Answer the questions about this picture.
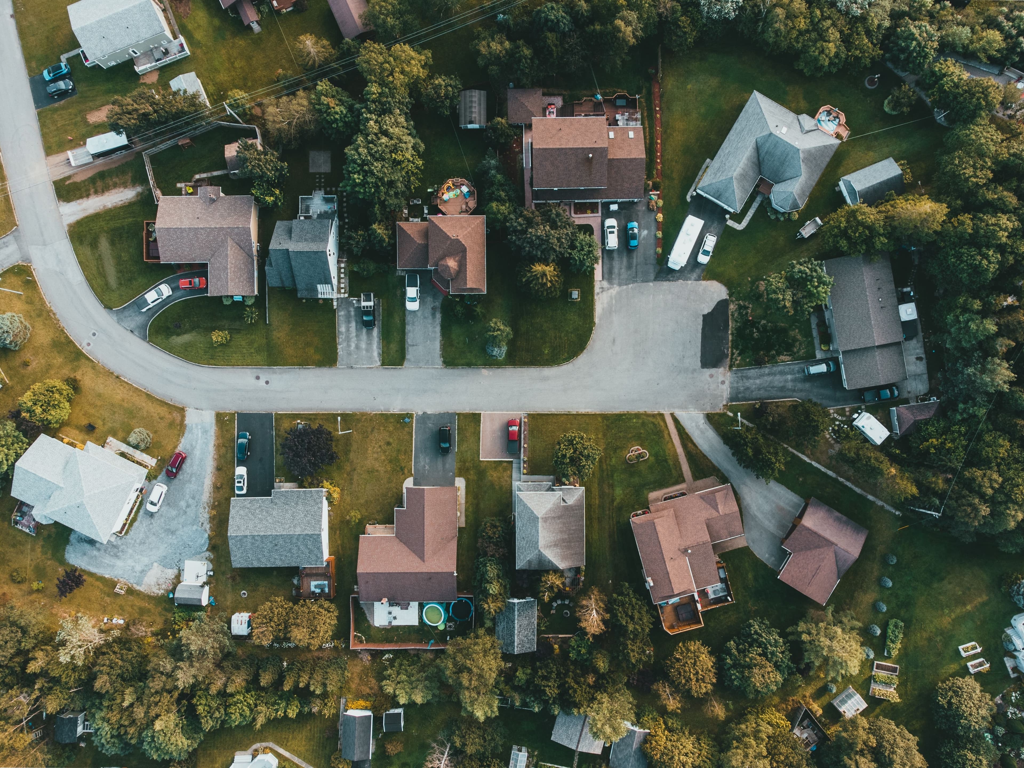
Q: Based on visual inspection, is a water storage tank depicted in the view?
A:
No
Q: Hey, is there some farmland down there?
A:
No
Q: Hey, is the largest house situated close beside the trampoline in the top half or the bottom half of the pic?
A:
bottom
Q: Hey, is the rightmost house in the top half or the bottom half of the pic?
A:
bottom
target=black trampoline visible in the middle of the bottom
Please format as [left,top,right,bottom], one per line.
[450,597,473,621]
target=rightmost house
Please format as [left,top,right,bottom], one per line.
[995,603,1024,648]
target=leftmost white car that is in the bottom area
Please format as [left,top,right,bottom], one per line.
[145,482,170,513]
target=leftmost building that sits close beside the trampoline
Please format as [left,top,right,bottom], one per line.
[356,485,458,606]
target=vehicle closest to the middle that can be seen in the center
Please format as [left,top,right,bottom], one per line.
[506,419,521,454]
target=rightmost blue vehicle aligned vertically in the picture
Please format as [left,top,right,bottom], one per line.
[626,221,640,250]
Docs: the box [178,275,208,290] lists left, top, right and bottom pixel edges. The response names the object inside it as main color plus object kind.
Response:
red car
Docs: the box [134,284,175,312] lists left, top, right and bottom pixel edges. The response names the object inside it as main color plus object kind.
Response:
white vehicle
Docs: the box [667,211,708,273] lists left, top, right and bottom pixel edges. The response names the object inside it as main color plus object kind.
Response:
white camper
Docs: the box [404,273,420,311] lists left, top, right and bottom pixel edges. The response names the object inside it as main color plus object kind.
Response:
white vehicle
